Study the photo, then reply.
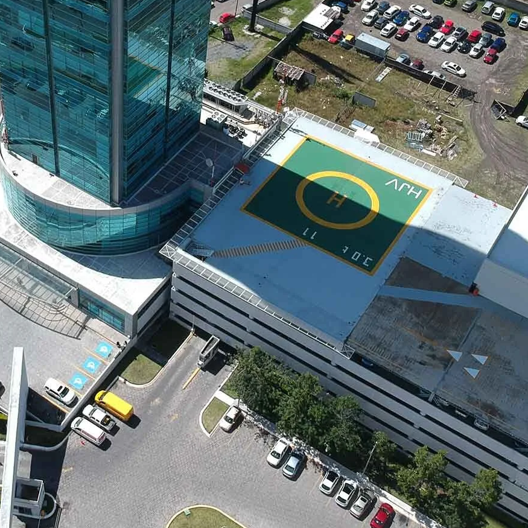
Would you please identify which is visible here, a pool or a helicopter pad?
helicopter pad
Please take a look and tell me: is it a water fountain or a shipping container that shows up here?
shipping container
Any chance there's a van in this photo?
Yes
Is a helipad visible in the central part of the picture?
Yes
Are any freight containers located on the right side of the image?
Yes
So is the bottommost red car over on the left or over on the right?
right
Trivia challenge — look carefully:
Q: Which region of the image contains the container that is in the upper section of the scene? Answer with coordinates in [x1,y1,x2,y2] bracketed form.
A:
[355,28,392,54]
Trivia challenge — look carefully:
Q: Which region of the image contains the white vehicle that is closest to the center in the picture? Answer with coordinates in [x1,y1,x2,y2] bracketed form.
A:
[218,402,244,435]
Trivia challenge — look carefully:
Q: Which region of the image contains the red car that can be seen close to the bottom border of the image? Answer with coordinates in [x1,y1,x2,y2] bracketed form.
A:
[369,500,397,528]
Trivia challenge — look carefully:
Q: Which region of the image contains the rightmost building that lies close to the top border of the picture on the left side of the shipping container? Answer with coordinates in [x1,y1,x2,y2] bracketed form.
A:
[302,4,341,42]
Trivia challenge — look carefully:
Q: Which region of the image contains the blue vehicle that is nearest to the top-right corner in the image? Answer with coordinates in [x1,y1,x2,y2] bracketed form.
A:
[507,12,520,25]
